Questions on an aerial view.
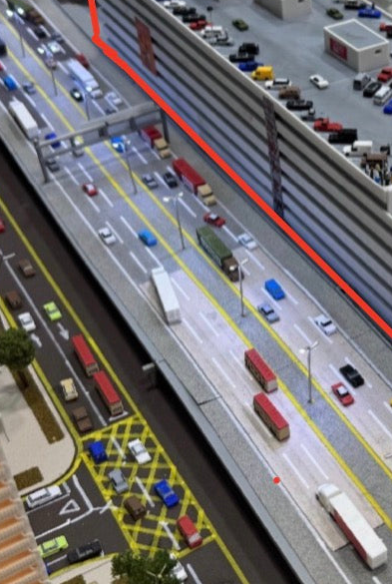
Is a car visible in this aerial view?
Yes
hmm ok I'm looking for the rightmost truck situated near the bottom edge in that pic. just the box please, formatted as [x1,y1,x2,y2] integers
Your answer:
[315,484,392,577]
